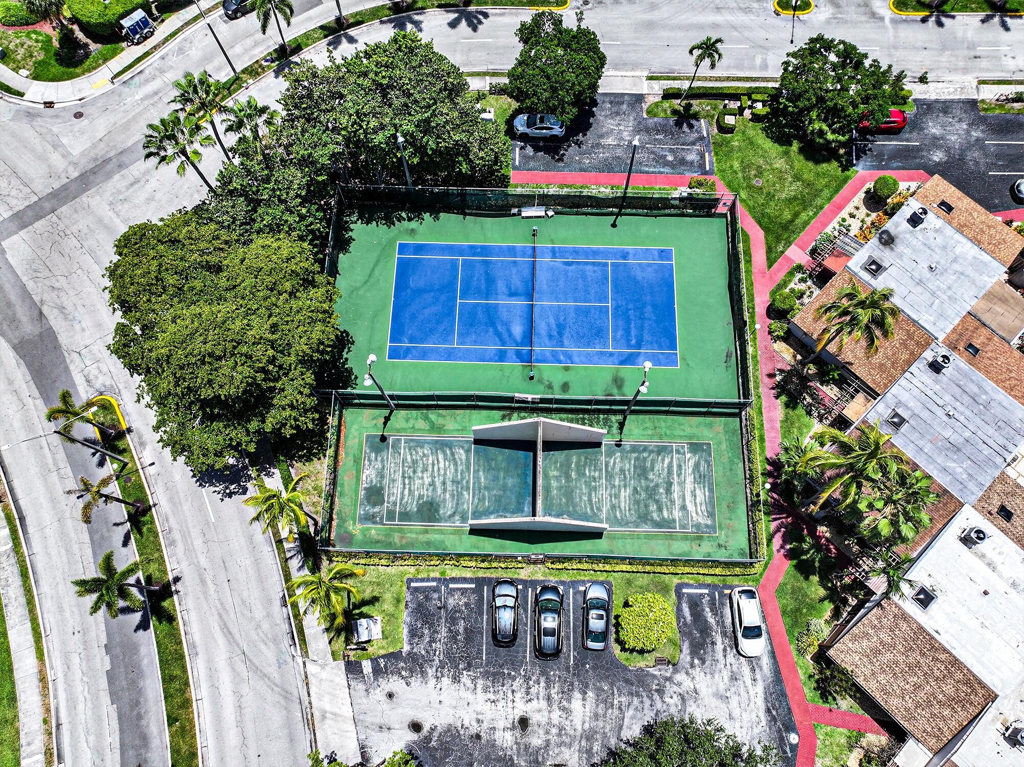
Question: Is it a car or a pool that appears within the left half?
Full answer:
What appears within the left half is a car.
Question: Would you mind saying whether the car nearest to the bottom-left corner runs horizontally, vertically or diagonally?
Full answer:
The car nearest to the bottom-left corner is oriented vertically.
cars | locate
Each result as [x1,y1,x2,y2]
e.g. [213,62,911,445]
[730,586,769,658]
[1008,181,1024,205]
[531,584,566,661]
[854,107,909,135]
[514,113,565,140]
[487,579,521,647]
[581,582,614,653]
[222,0,265,21]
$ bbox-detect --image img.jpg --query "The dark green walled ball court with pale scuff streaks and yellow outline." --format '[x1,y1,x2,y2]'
[332,403,751,563]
